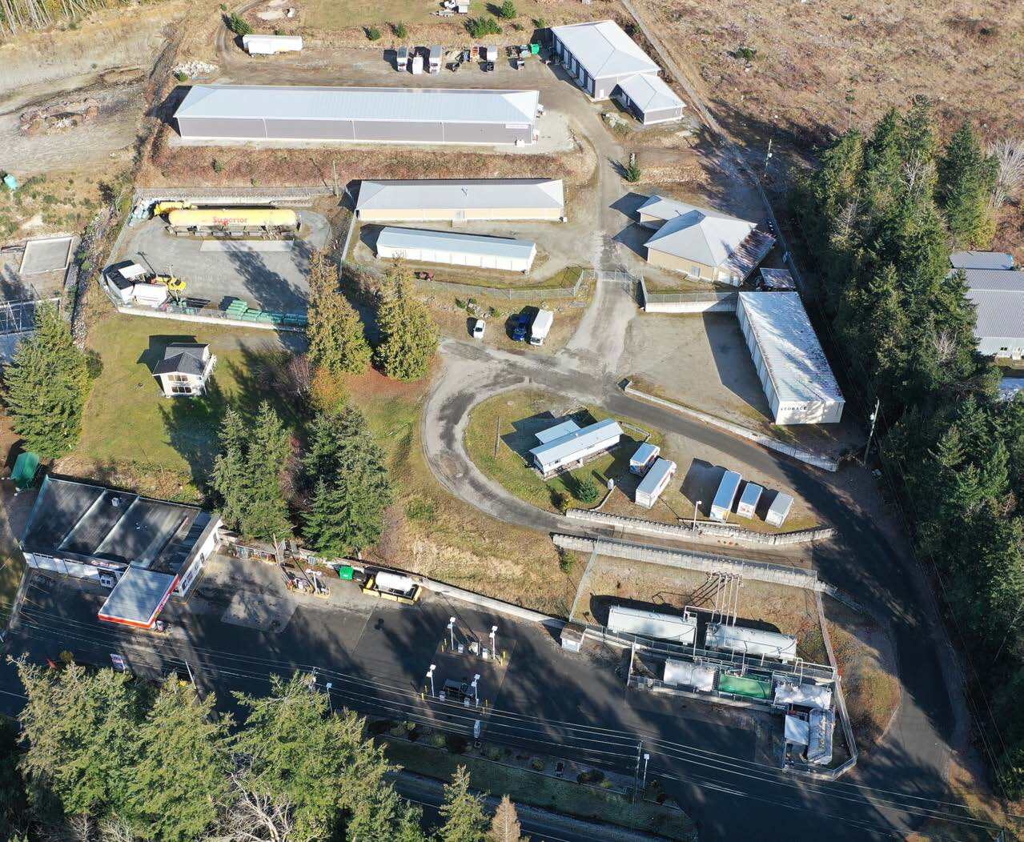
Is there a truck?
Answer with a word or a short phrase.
Yes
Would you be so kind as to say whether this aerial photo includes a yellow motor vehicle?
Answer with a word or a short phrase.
Yes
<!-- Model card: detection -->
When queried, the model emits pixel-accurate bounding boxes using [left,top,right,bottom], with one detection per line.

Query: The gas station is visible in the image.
[22,474,226,607]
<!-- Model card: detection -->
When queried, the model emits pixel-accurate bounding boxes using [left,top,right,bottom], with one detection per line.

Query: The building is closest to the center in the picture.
[525,414,632,486]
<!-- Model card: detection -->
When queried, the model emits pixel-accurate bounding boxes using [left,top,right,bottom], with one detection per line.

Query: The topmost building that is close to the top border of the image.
[549,18,665,101]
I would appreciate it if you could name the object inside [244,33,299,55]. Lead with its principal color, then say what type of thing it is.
white trailer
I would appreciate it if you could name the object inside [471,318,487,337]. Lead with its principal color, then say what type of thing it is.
white car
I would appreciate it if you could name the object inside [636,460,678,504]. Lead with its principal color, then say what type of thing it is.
white truck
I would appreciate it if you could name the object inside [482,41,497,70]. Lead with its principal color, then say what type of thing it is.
white vehicle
